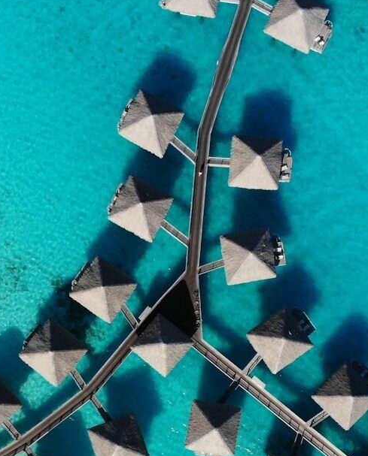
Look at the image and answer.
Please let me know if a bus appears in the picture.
No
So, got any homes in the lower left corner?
Yes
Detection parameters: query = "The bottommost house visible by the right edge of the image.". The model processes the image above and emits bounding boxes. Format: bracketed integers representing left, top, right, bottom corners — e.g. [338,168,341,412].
[310,358,368,431]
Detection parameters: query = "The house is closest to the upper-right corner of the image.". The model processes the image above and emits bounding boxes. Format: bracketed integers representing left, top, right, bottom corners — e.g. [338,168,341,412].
[262,0,334,54]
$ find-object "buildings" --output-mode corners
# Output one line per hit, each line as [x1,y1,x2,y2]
[245,304,316,376]
[162,0,219,19]
[107,175,175,241]
[129,310,195,378]
[116,90,186,157]
[310,358,368,431]
[68,255,138,324]
[262,0,334,54]
[218,228,286,287]
[86,410,152,456]
[16,317,89,388]
[0,377,22,427]
[226,135,293,192]
[182,397,243,456]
